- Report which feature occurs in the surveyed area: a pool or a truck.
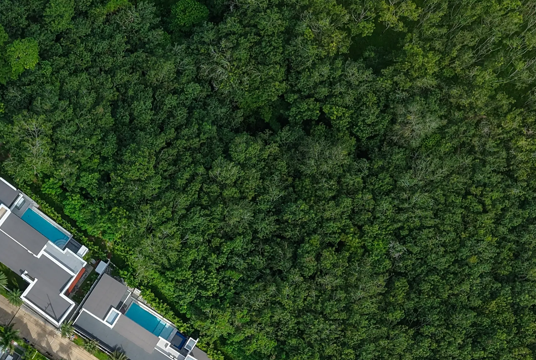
pool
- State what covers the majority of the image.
trees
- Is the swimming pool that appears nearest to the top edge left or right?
left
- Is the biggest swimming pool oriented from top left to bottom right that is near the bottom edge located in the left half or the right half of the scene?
left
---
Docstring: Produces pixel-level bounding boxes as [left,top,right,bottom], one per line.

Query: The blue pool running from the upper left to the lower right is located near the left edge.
[19,205,74,251]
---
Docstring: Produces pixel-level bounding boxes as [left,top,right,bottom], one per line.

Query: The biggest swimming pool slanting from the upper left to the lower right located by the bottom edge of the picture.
[123,301,179,343]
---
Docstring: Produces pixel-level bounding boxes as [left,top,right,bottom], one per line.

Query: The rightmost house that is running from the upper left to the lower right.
[72,274,198,360]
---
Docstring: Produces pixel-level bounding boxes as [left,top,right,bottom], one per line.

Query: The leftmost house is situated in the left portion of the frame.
[0,178,88,326]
